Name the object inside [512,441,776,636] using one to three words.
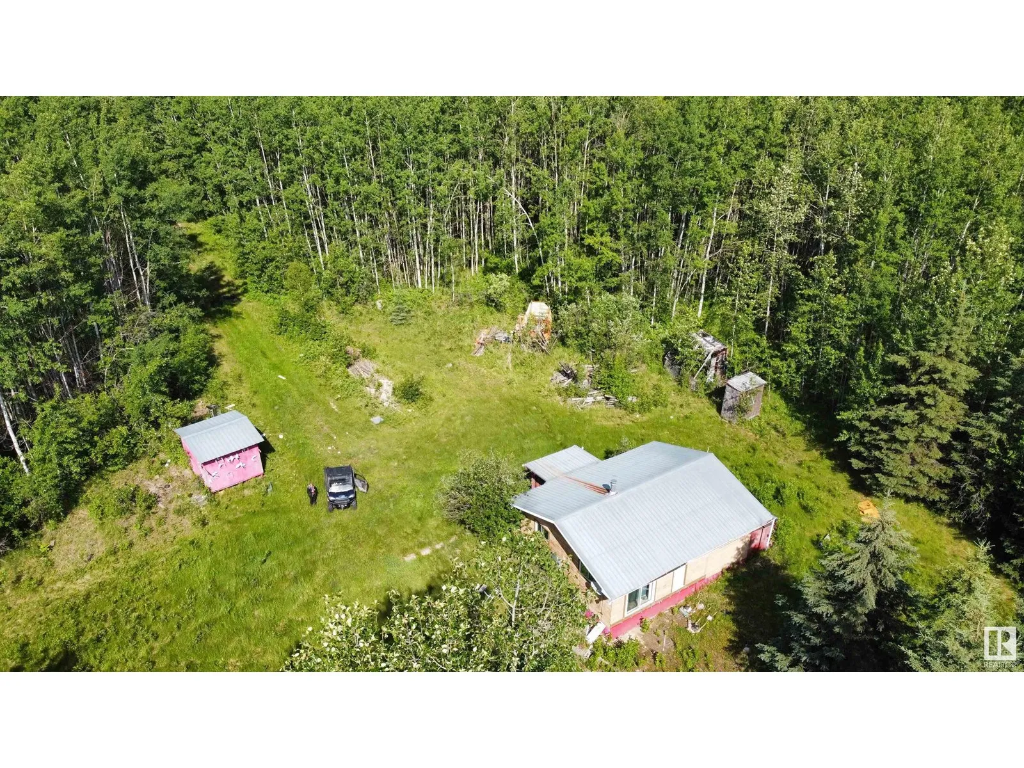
house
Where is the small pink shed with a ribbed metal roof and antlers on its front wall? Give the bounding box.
[174,411,264,493]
